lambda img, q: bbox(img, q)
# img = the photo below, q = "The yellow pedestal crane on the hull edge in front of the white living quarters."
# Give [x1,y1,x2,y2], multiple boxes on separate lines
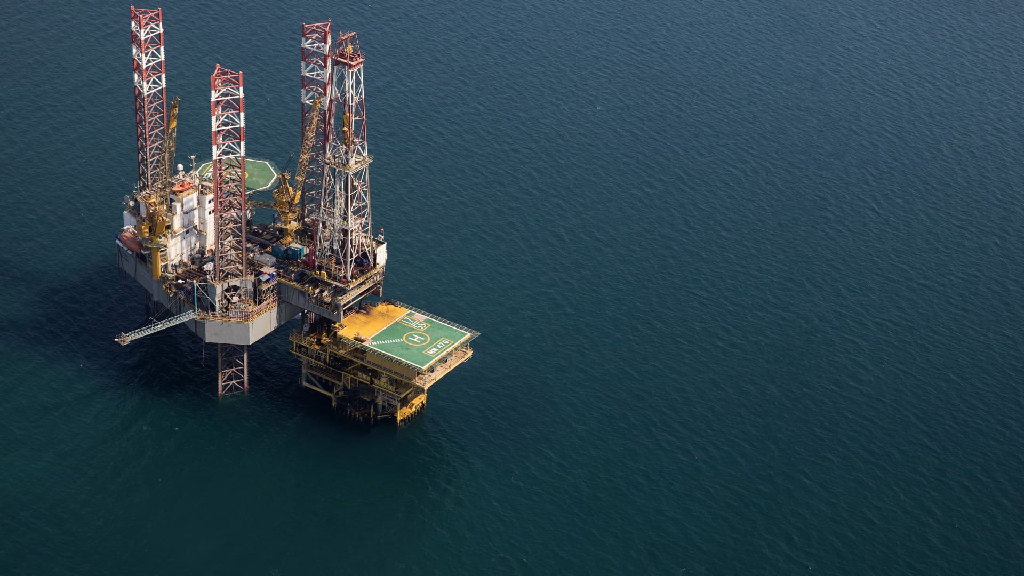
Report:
[138,96,182,282]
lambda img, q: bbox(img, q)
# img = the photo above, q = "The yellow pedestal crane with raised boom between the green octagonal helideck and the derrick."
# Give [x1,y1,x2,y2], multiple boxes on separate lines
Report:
[271,97,323,237]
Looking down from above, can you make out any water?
Yes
